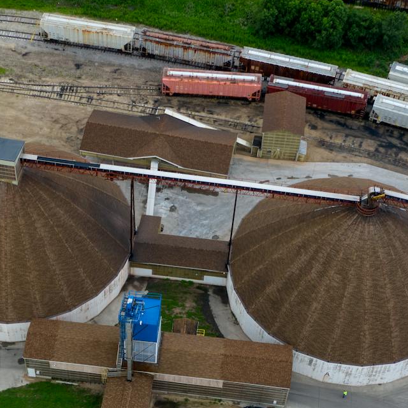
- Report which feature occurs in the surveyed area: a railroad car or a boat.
railroad car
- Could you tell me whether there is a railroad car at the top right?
Yes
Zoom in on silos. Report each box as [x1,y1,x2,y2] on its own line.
[0,141,133,342]
[227,176,408,385]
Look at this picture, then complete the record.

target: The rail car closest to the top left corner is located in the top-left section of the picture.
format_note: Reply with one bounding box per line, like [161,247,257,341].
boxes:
[39,13,139,49]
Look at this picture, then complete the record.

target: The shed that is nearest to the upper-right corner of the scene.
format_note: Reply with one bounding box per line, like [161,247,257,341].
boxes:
[230,93,311,158]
